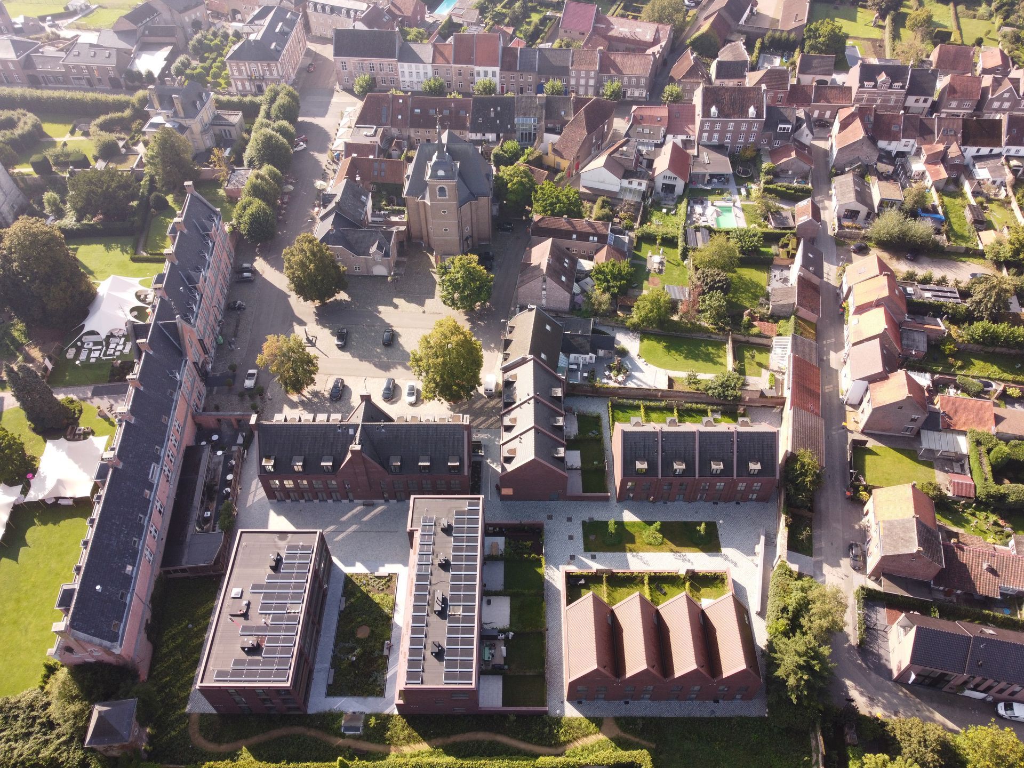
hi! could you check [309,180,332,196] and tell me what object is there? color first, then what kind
white umbrella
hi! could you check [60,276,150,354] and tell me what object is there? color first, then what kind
white tent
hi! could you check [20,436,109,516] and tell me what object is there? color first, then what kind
white tent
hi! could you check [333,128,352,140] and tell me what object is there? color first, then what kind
white umbrella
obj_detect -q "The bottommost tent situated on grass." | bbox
[0,484,32,554]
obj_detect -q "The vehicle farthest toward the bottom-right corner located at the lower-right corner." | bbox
[991,699,1024,721]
